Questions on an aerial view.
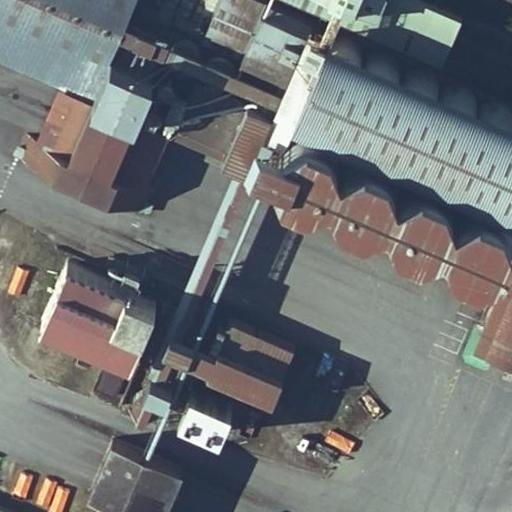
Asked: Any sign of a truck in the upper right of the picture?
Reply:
No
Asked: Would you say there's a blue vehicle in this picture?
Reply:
No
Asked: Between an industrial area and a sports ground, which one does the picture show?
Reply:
industrial area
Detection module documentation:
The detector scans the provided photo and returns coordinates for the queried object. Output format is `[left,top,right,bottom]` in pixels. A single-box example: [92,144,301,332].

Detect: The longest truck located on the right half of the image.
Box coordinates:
[298,440,342,470]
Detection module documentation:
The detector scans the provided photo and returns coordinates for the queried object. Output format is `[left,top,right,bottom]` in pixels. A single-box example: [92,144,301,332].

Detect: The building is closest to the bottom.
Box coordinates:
[82,435,183,512]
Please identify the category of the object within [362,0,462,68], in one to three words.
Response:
building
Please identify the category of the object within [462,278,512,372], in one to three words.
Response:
building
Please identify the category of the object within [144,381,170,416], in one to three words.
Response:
shed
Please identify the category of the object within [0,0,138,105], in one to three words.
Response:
shed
